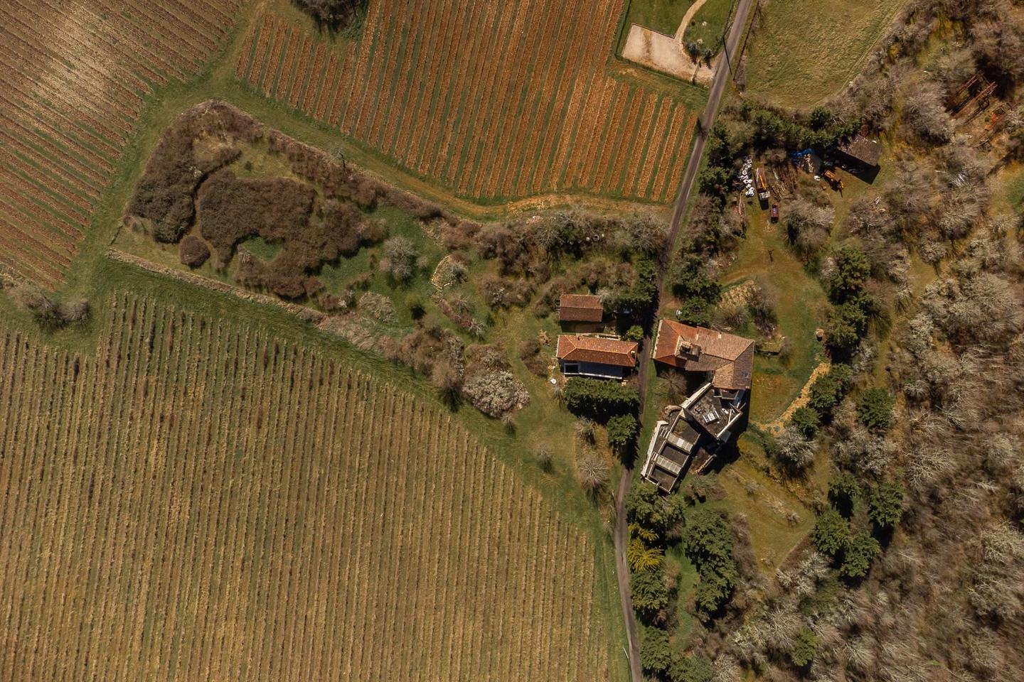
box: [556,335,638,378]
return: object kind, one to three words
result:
house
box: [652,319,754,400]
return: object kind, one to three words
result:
house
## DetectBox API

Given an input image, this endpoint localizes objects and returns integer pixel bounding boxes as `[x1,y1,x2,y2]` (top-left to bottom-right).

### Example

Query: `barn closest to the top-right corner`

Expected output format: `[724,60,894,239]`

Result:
[833,133,883,167]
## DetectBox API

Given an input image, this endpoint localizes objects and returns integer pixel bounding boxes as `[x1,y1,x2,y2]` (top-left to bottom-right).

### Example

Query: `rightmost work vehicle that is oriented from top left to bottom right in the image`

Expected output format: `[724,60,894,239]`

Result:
[822,166,845,190]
